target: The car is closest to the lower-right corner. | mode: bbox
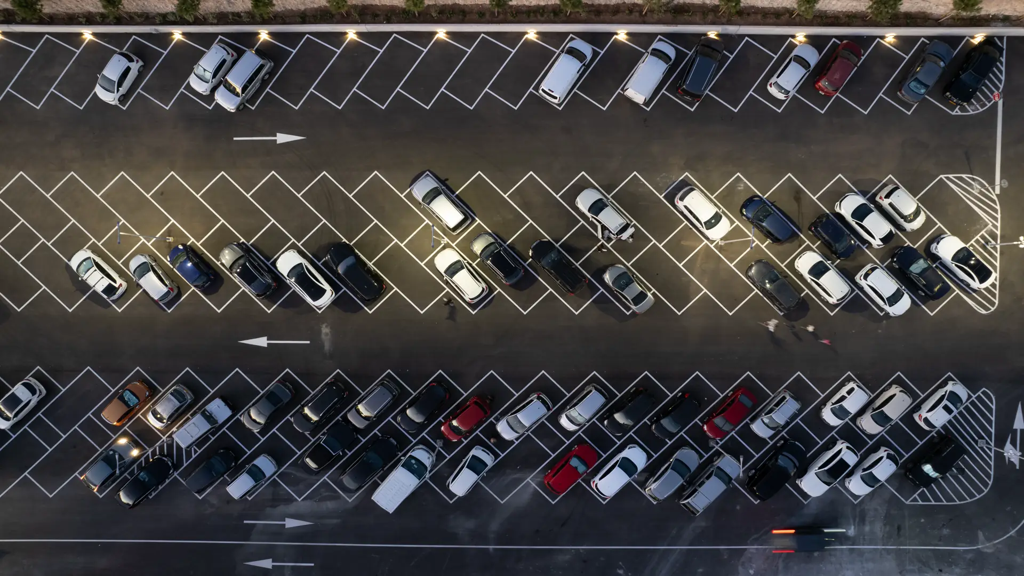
[903,434,975,492]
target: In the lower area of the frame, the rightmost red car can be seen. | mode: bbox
[701,385,760,441]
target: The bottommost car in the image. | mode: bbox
[778,524,837,558]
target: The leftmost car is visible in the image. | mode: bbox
[0,377,49,430]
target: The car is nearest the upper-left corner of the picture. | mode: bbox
[98,50,143,104]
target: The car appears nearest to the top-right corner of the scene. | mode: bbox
[944,38,1004,108]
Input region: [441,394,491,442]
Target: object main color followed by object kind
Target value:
red car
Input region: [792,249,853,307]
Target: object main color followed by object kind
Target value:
white car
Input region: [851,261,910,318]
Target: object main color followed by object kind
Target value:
white car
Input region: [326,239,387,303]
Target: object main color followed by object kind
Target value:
black car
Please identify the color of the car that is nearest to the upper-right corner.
black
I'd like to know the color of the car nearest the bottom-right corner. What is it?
black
